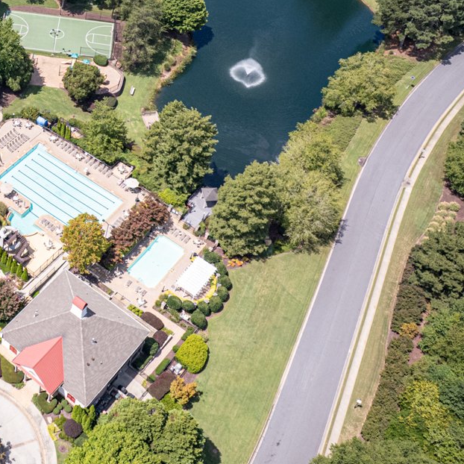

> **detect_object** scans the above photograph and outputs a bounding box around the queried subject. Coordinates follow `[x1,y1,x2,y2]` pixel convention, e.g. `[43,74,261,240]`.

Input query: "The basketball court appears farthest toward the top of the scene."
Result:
[0,7,118,61]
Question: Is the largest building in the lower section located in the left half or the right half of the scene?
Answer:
left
